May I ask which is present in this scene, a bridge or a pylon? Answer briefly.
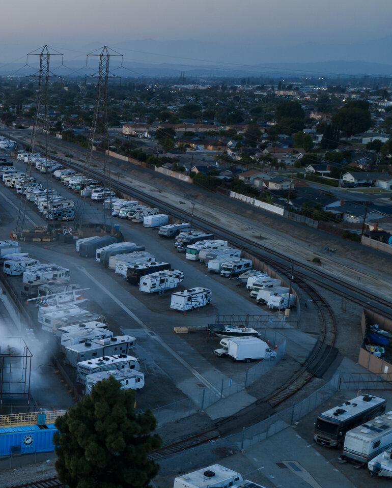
pylon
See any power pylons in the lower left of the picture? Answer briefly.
No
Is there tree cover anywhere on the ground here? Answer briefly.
Yes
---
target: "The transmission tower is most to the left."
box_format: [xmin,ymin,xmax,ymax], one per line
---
[12,45,66,235]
